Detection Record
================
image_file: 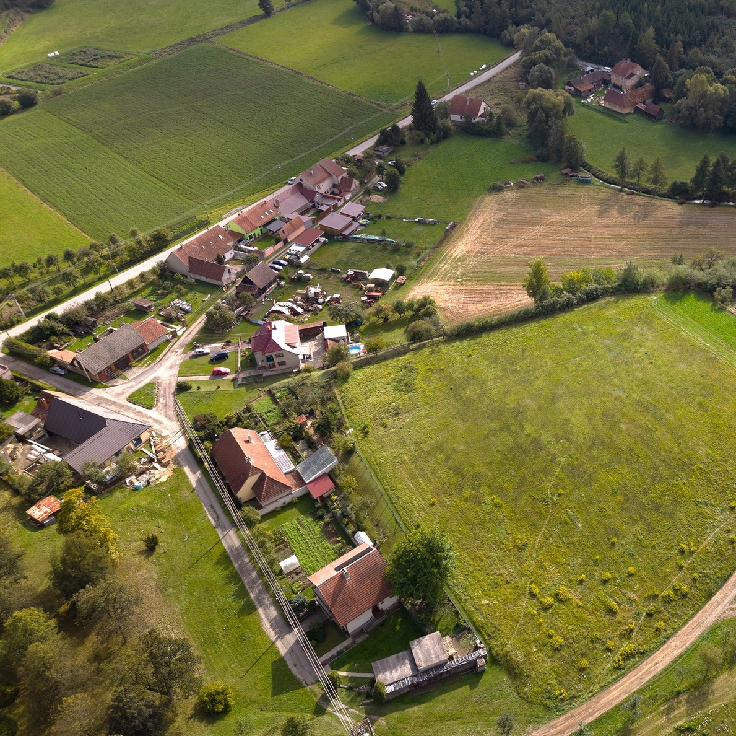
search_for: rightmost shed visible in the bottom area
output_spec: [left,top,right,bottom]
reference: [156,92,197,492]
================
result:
[410,632,448,673]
